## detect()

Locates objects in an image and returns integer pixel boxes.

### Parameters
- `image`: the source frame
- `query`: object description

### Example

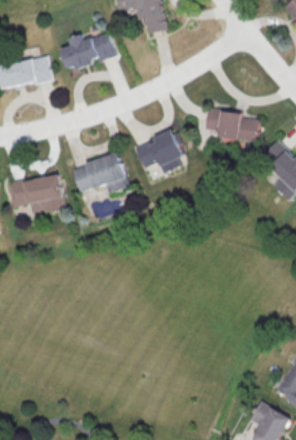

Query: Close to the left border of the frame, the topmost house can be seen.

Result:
[0,54,55,90]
